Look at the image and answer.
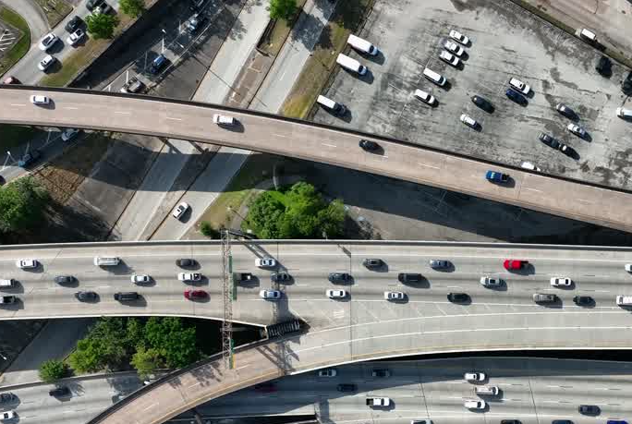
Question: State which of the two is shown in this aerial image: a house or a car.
car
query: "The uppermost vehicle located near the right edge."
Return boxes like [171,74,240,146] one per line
[578,23,603,47]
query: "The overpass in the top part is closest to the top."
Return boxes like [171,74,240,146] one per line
[0,83,632,232]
